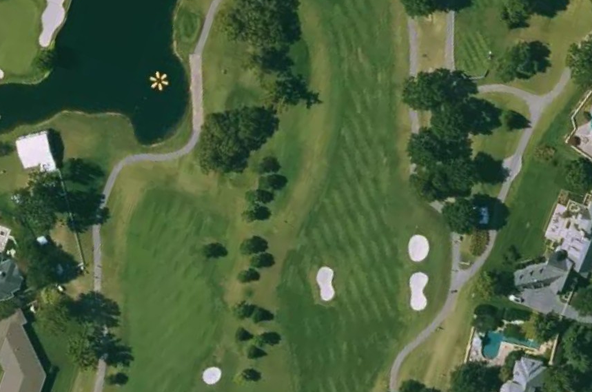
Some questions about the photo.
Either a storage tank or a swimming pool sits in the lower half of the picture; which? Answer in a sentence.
What appears in the lower half of the picture is a swimming pool.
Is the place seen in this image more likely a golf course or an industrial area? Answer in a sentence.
The area seen from above is a golf course.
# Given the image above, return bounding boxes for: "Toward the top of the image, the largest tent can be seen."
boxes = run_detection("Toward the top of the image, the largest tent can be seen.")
[17,132,54,168]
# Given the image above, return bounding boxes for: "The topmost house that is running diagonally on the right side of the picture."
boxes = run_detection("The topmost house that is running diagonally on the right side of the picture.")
[512,185,592,296]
